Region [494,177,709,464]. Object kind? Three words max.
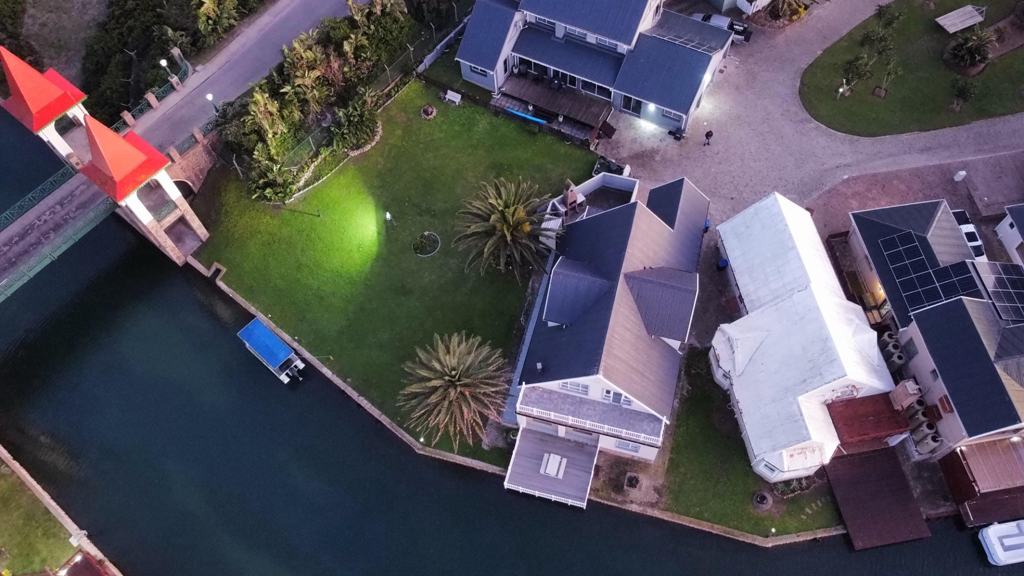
house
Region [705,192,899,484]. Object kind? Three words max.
house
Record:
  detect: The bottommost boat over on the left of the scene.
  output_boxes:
[238,318,312,390]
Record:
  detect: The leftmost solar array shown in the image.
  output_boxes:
[652,30,721,57]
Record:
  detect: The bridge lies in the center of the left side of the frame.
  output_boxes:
[0,161,123,314]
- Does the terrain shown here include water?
Yes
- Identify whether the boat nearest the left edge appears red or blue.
blue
